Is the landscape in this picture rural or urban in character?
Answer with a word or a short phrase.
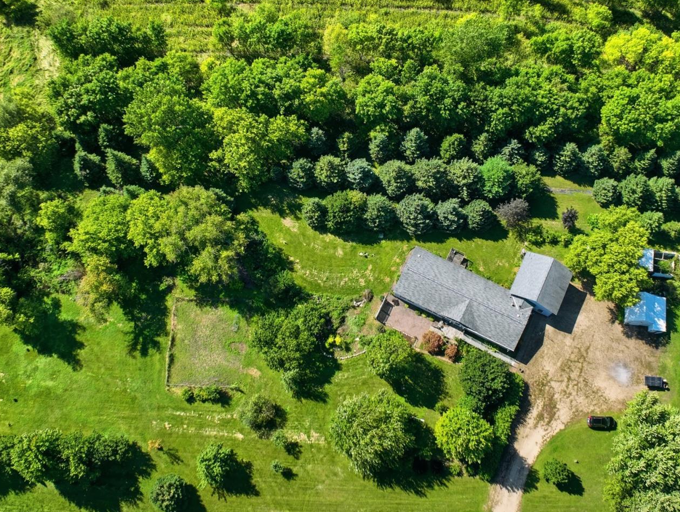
rural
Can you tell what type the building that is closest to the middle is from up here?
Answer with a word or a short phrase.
residential house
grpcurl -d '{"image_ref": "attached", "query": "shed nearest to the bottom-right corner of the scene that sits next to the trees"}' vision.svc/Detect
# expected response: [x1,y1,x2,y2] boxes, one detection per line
[619,291,666,336]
